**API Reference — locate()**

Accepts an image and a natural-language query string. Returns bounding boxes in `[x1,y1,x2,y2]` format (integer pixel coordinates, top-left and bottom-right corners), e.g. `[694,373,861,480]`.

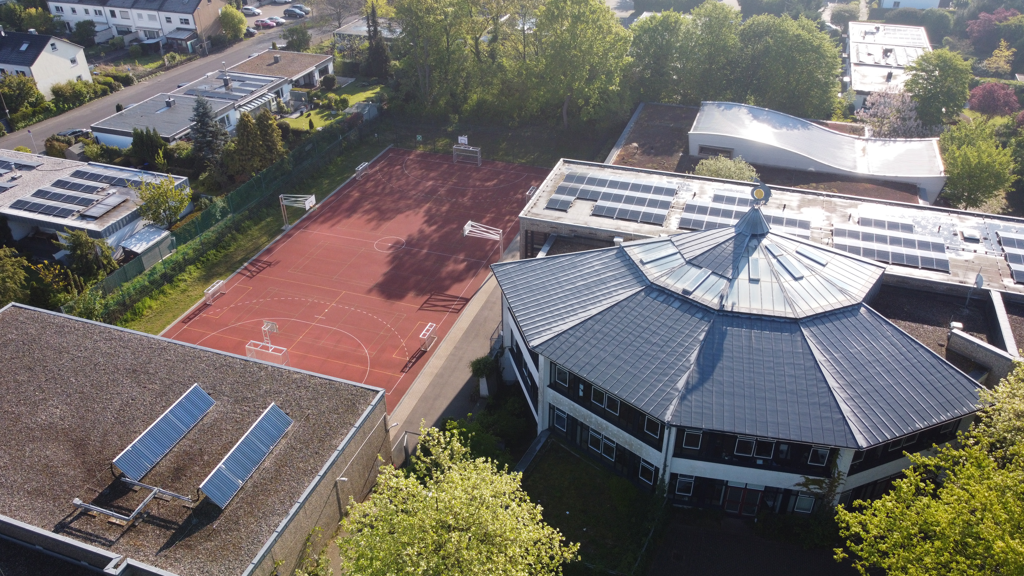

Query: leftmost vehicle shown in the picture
[56,123,90,138]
